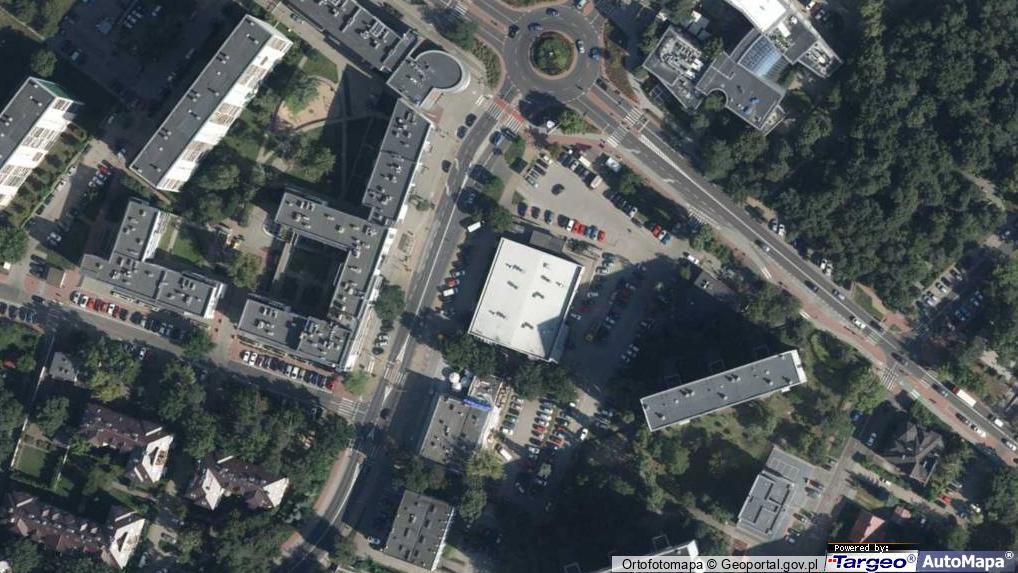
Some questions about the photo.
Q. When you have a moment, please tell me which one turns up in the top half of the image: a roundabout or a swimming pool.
roundabout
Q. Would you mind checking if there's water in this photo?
No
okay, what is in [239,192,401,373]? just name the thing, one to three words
building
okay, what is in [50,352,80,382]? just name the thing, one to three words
house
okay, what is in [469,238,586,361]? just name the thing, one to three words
building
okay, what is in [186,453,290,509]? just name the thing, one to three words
house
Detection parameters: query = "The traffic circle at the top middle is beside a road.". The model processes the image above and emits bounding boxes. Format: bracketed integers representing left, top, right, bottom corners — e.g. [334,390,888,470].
[504,5,602,103]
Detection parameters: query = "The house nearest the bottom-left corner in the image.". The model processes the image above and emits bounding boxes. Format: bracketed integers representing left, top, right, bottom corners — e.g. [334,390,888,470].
[5,491,149,570]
